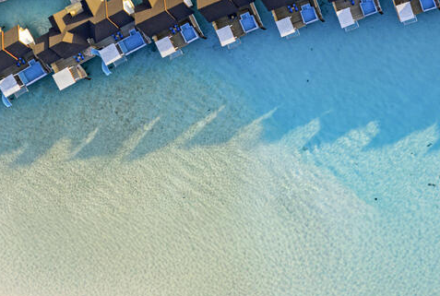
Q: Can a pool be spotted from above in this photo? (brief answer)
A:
Yes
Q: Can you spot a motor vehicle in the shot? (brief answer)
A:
No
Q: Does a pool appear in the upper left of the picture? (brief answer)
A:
Yes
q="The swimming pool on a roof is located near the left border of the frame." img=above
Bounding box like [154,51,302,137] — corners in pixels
[18,65,48,92]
